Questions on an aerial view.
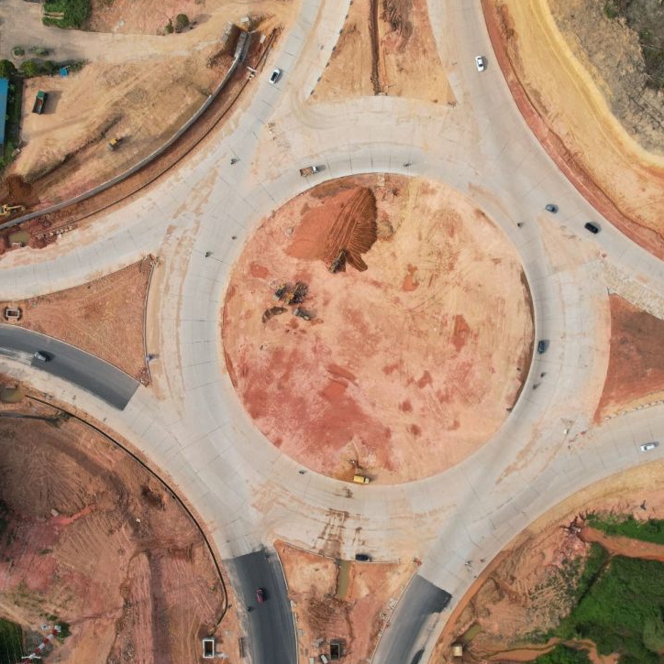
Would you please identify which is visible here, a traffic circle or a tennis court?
traffic circle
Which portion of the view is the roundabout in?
center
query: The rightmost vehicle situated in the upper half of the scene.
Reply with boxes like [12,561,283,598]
[584,221,600,234]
